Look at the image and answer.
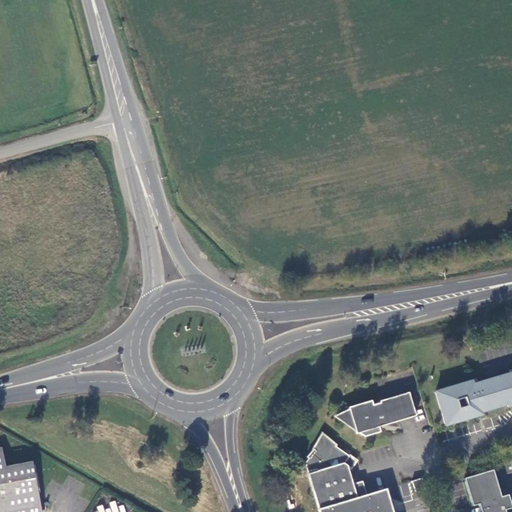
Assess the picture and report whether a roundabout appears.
Yes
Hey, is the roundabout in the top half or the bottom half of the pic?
bottom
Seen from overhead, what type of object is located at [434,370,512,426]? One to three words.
building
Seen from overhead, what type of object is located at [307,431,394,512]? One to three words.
building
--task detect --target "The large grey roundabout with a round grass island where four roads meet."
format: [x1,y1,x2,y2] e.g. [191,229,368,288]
[124,281,262,419]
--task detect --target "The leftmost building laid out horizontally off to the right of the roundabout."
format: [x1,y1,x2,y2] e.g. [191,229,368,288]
[334,391,416,436]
